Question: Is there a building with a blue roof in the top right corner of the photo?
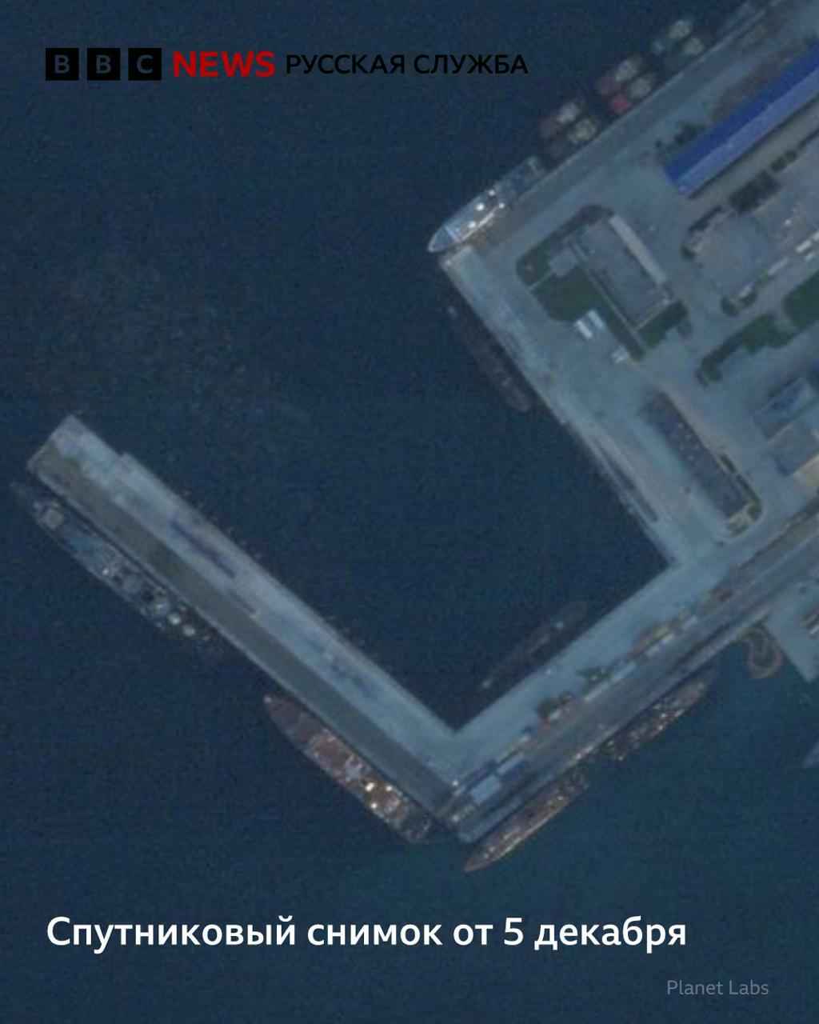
Yes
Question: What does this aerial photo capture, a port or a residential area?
port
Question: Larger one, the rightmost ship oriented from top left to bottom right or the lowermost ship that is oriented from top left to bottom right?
the lowermost ship that is oriented from top left to bottom right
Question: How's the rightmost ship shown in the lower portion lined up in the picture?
on a diagonal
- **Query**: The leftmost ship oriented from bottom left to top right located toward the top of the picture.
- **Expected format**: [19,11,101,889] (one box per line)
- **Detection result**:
[428,154,550,251]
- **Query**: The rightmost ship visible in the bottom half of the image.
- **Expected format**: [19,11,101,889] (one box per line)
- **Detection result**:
[603,670,718,764]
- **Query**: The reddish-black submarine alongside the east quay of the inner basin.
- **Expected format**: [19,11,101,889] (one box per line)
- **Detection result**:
[459,305,528,411]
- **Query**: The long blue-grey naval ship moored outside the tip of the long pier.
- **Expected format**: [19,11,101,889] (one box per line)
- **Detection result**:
[9,484,227,663]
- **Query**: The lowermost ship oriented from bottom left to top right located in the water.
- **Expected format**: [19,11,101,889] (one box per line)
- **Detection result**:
[466,765,596,870]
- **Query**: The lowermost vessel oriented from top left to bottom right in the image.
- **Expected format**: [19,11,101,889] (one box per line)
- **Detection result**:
[264,695,441,851]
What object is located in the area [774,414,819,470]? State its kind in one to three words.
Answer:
shed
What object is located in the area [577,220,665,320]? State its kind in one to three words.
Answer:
building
